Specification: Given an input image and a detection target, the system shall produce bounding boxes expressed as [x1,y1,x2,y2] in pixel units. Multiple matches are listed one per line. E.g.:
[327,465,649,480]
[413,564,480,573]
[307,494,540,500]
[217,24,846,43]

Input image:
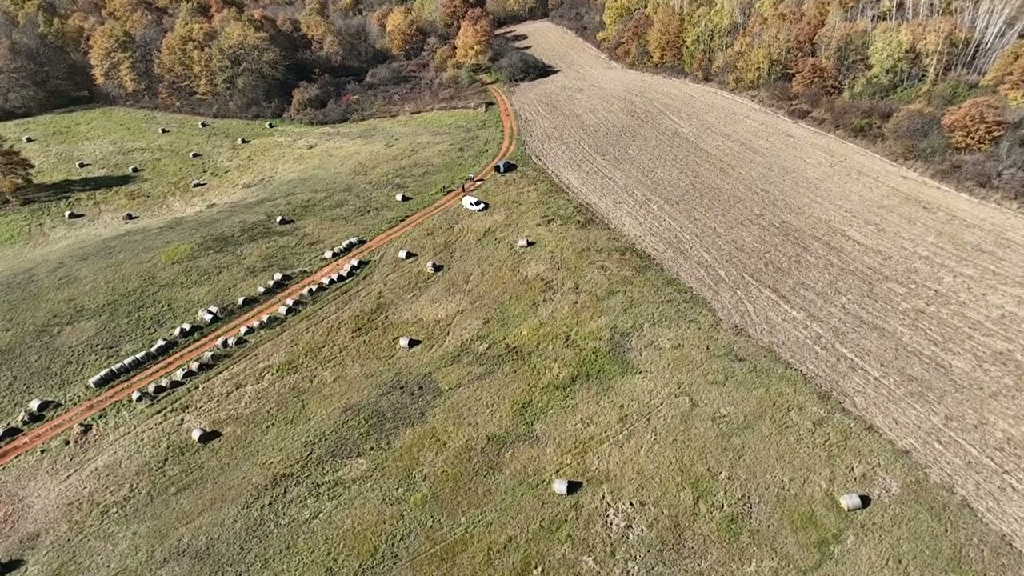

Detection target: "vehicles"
[461,195,486,212]
[497,159,511,175]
